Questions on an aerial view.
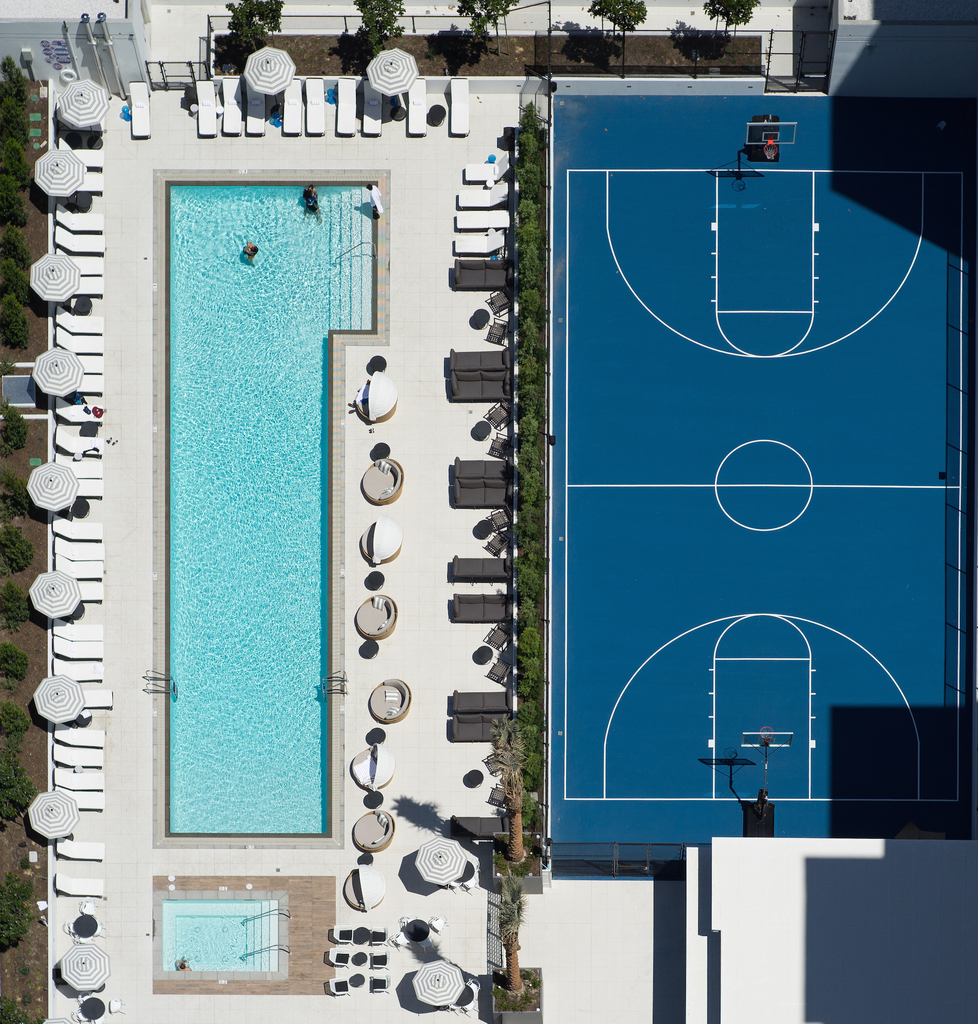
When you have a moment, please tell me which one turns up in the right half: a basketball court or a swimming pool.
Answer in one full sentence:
It is a basketball court that can be seen in the right half.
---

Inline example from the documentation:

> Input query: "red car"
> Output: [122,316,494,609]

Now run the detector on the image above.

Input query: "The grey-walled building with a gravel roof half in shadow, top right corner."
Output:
[828,0,978,96]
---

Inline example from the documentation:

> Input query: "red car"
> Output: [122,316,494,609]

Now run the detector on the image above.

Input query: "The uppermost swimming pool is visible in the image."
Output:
[153,169,390,849]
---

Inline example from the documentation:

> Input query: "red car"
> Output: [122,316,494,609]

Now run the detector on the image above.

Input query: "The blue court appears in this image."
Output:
[553,95,972,880]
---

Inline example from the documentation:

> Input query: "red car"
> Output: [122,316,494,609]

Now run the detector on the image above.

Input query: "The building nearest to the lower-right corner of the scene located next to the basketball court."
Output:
[683,837,978,1024]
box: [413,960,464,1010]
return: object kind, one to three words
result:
umbrella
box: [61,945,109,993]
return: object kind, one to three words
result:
umbrella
